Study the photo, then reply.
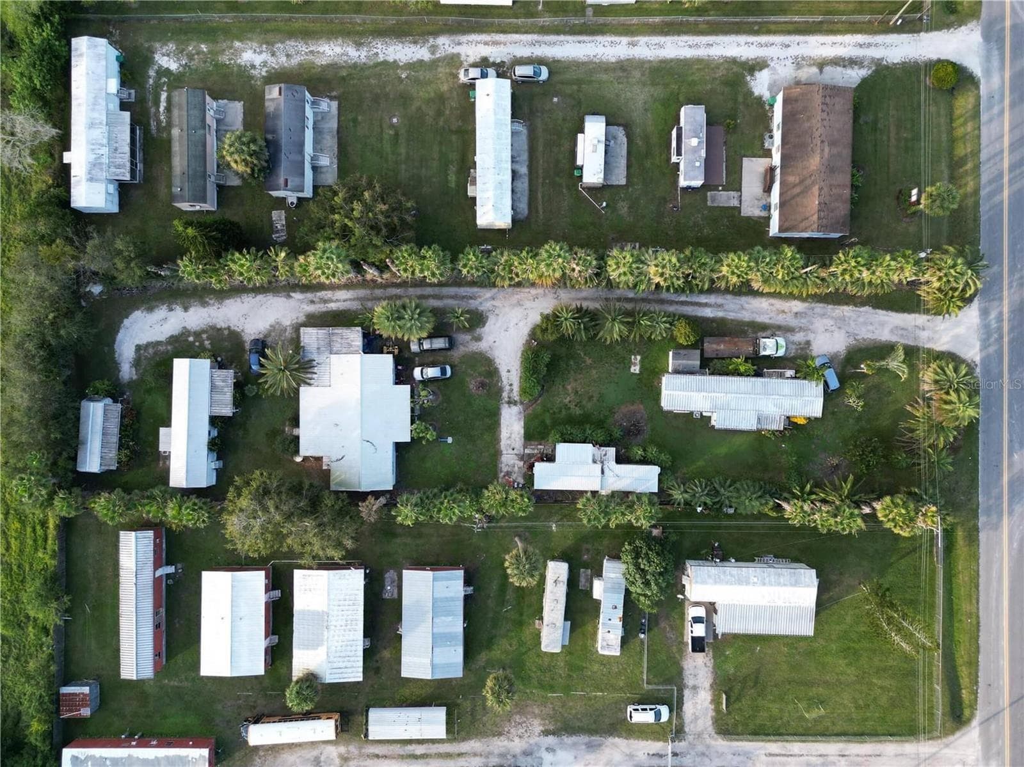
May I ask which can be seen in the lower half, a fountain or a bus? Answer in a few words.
bus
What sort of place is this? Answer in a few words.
residential area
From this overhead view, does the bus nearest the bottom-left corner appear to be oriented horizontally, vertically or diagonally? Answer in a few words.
horizontally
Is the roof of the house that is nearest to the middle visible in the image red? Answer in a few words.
No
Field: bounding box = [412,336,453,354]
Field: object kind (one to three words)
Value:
car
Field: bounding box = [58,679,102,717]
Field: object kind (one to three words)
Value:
shed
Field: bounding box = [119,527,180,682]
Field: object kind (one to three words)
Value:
house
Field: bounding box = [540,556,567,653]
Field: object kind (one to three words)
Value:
trailer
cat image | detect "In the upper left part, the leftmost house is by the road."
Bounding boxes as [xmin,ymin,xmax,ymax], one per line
[63,35,151,211]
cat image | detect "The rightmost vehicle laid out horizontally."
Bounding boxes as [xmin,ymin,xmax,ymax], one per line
[706,335,785,358]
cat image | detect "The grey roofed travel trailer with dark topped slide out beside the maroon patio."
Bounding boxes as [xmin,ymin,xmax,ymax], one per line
[670,107,704,197]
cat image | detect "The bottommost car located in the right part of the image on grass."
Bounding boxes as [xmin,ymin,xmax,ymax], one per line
[627,704,668,726]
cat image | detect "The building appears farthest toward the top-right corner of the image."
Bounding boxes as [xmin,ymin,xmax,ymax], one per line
[772,85,854,237]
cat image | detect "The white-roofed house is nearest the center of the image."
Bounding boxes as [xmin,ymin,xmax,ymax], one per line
[534,443,602,491]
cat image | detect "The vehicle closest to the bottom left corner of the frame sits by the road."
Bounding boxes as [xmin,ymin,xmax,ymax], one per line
[242,717,340,754]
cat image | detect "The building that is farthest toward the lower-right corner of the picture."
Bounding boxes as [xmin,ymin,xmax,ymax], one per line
[685,561,822,637]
